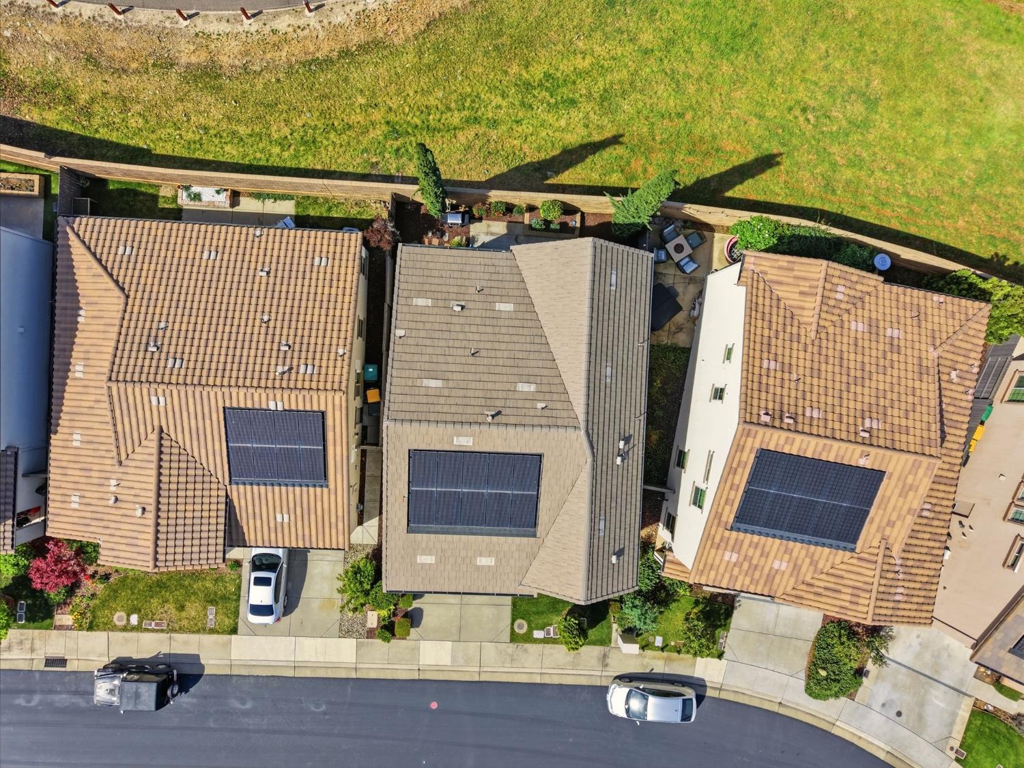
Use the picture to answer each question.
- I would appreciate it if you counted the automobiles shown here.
3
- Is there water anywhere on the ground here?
No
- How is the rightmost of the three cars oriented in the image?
from side to side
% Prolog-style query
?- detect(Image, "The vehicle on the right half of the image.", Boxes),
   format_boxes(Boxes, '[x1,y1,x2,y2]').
[604,673,695,721]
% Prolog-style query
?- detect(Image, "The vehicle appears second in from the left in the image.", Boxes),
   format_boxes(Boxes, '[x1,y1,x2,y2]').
[245,552,289,623]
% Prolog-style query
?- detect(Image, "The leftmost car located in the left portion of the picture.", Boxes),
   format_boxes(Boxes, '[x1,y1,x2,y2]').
[97,661,177,710]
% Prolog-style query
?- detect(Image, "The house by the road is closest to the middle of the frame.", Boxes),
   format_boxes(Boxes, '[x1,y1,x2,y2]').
[380,234,656,606]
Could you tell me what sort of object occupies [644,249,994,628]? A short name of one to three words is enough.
house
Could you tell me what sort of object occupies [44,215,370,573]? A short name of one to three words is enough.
house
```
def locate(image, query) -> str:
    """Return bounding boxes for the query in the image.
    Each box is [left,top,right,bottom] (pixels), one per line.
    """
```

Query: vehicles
[245,552,289,623]
[97,661,177,710]
[604,673,695,721]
